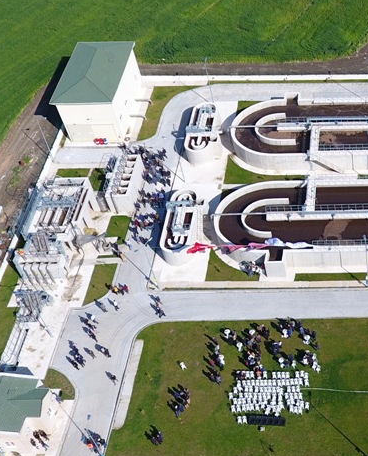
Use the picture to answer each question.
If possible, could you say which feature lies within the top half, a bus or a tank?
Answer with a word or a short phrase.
tank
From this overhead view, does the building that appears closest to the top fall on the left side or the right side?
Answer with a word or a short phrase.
left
